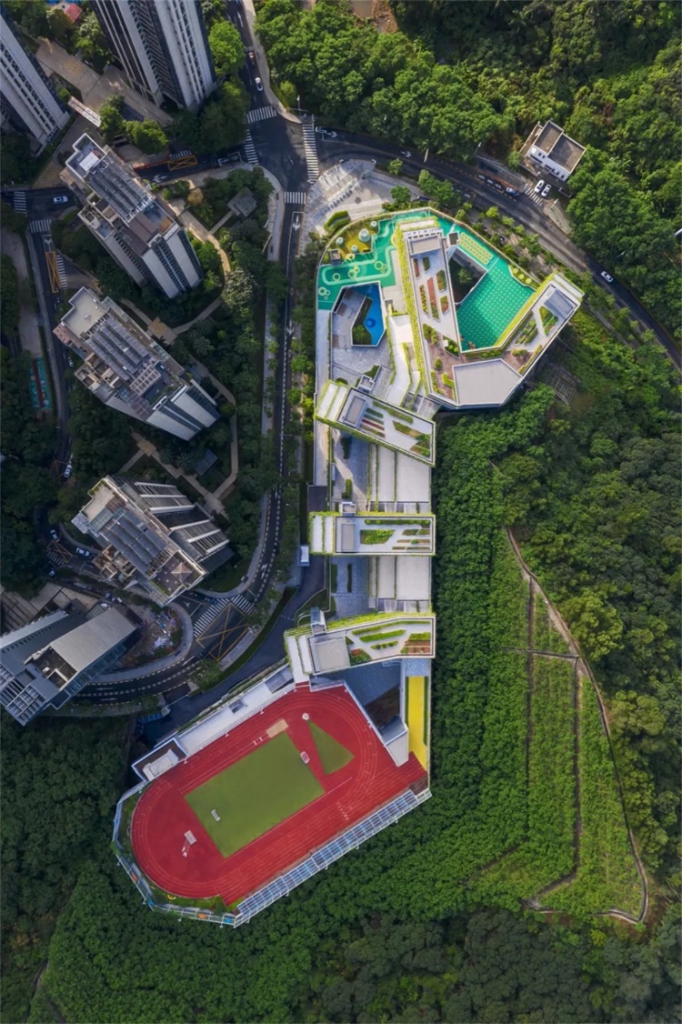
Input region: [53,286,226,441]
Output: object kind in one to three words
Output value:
building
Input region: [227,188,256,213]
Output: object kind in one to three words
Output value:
building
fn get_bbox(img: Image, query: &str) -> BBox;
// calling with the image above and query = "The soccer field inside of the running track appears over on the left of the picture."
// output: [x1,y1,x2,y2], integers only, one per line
[185,732,325,857]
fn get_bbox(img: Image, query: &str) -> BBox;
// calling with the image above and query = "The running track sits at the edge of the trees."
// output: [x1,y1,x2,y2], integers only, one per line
[130,684,427,906]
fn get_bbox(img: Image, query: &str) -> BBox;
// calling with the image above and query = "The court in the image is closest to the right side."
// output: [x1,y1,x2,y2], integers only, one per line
[458,260,535,350]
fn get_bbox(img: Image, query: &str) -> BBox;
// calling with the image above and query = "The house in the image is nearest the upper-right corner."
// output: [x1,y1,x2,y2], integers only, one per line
[522,121,586,182]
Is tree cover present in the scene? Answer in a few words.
Yes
